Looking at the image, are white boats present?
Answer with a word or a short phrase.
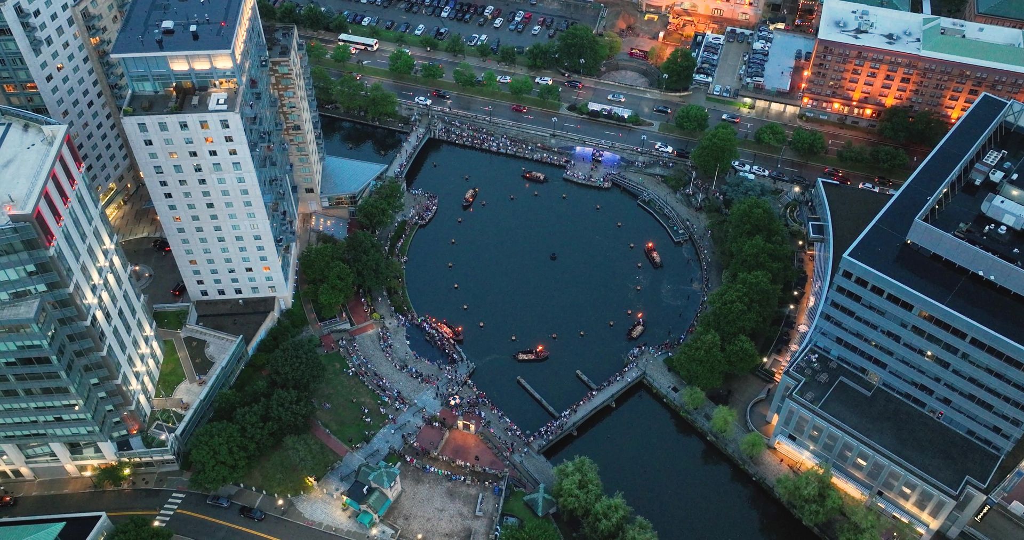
No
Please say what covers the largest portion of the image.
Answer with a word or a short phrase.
buildings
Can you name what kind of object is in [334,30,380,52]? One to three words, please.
bus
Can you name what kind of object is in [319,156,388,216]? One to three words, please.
building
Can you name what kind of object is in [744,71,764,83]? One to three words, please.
vehicle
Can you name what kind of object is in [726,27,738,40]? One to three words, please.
vehicle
